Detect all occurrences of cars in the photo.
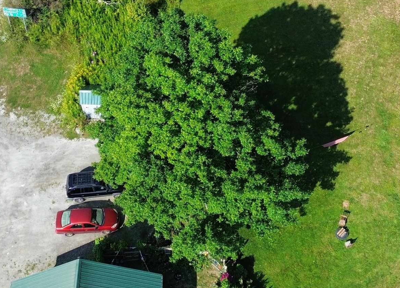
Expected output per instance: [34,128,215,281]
[54,205,120,238]
[62,170,123,201]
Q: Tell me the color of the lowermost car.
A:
red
